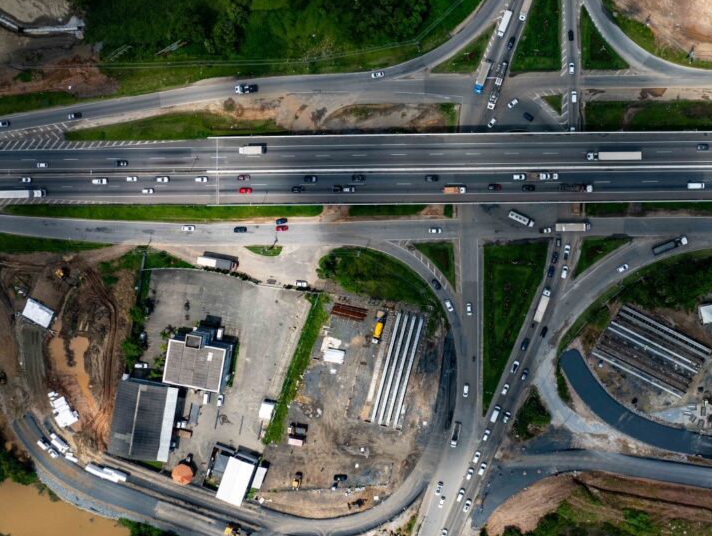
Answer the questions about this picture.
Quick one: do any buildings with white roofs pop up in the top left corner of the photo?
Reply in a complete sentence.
No, the scene shows no building with a white roof in the top left corner of the photo.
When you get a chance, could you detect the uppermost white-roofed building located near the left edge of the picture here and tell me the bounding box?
[22,297,60,328]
